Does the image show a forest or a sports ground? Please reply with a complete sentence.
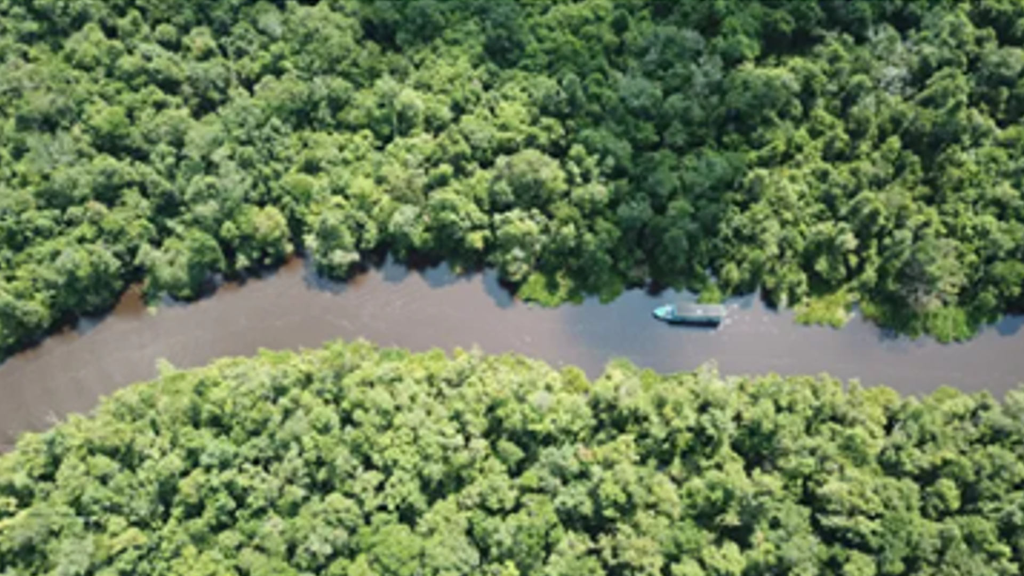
What you see here is a forest.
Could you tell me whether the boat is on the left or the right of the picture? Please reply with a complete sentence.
It is on the right.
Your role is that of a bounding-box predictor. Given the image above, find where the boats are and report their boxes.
[653,303,725,324]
